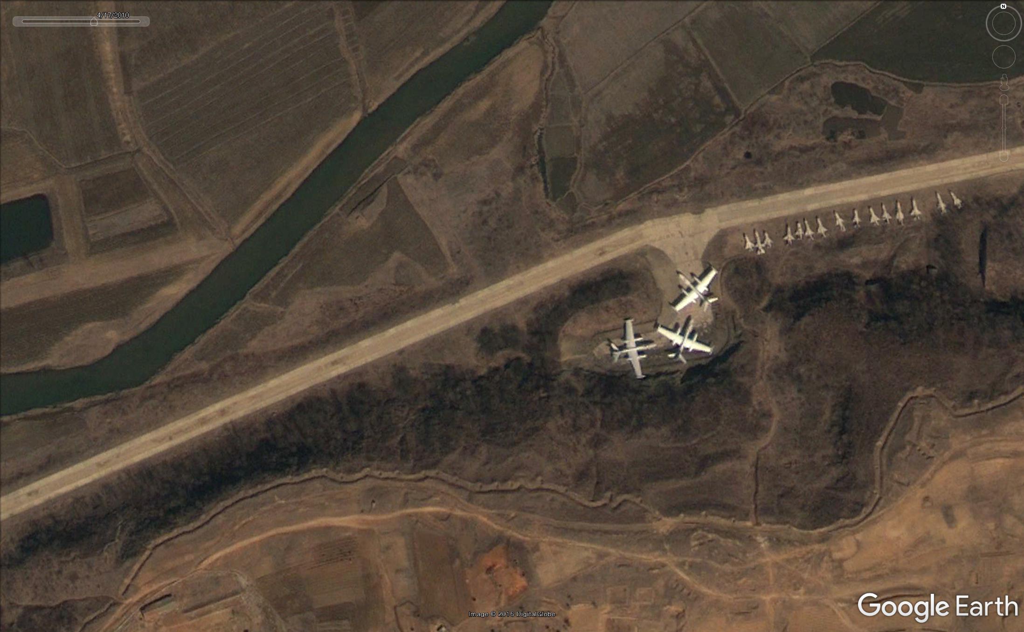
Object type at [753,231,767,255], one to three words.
airplane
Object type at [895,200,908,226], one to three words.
airplane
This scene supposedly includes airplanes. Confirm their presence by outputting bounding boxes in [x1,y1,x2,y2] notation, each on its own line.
[818,218,829,238]
[882,204,892,224]
[765,232,773,248]
[655,317,714,364]
[835,211,848,232]
[805,219,816,241]
[746,235,754,252]
[937,192,948,214]
[870,206,881,226]
[951,191,962,209]
[673,266,721,316]
[796,222,805,240]
[610,318,658,379]
[753,231,767,255]
[785,225,796,246]
[895,200,908,226]
[910,199,923,221]
[852,209,862,228]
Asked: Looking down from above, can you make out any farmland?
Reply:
Yes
